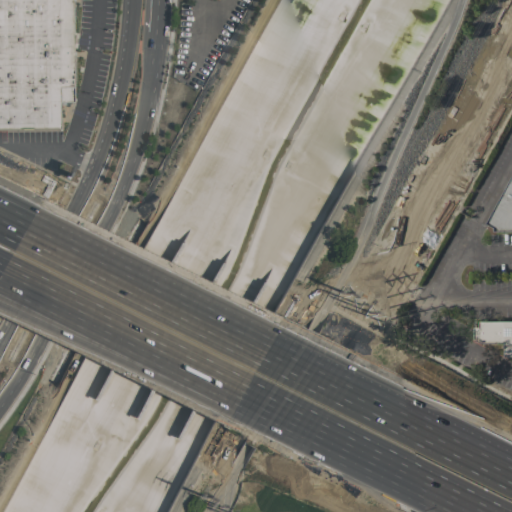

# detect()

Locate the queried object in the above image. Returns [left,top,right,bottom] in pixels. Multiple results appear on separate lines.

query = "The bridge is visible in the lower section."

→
[0,200,329,448]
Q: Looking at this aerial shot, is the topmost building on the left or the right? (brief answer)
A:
left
